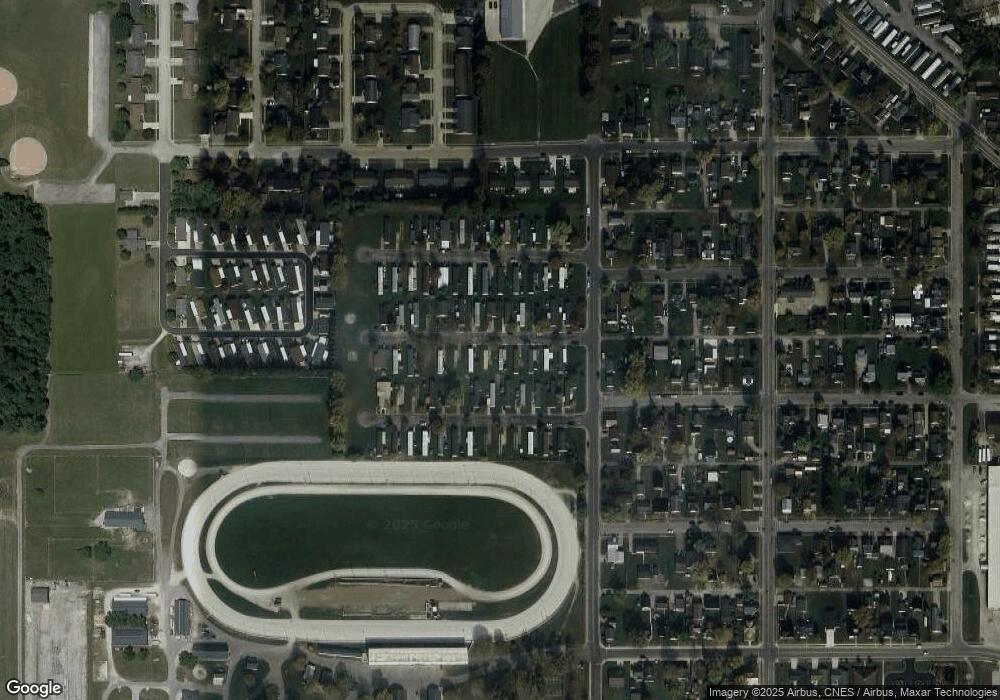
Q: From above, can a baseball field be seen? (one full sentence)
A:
Yes, this view includes a baseball field.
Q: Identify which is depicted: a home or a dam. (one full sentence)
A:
The one in the frame is a home.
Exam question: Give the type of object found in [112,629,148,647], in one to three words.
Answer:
barn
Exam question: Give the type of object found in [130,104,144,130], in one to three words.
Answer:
house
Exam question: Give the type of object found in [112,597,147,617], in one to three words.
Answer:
barn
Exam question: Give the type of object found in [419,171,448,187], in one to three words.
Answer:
building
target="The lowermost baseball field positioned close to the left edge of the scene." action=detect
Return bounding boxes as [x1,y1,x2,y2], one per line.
[10,139,47,176]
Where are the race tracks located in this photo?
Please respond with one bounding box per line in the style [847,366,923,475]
[181,460,580,649]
